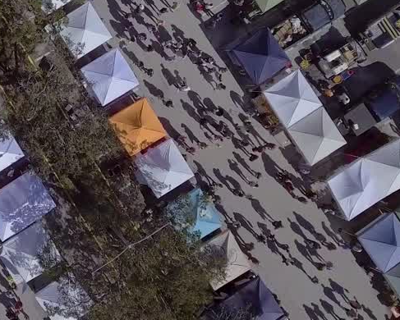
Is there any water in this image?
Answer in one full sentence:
No, no water is visible.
